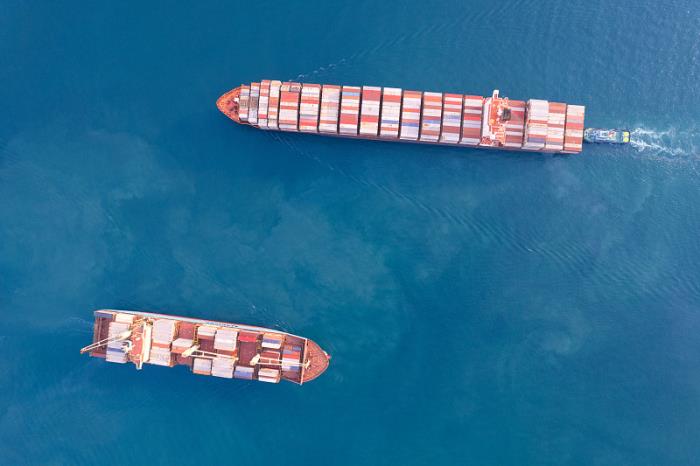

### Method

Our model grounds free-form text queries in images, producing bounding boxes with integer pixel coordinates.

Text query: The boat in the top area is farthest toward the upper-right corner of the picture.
[584,128,630,145]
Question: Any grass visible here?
No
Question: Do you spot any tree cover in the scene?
No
